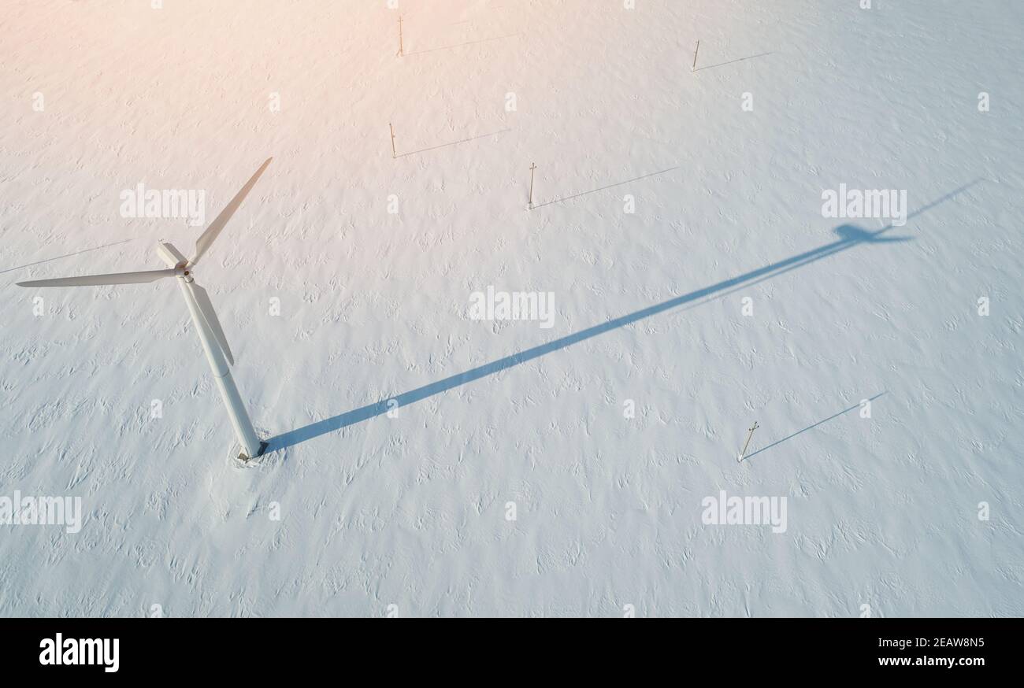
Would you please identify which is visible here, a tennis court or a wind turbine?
wind turbine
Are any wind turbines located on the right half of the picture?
No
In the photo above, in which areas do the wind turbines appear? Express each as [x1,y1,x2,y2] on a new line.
[16,154,271,463]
